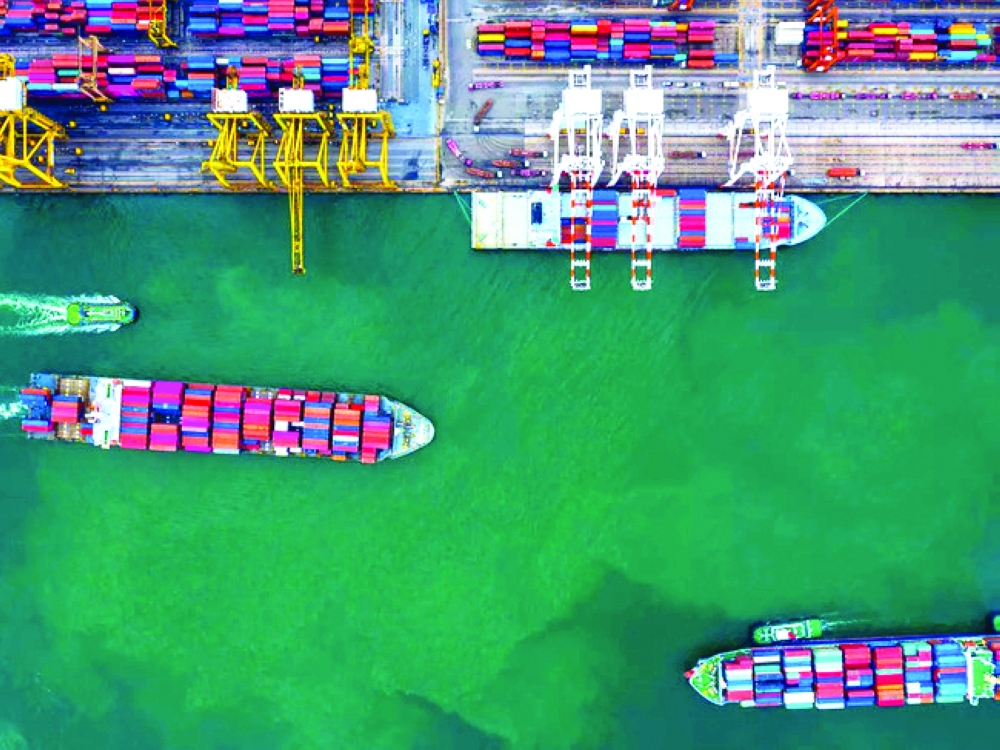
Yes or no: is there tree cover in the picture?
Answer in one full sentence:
No, there is no tree cover in the image.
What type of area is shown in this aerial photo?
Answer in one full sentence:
The area seen from above is a port.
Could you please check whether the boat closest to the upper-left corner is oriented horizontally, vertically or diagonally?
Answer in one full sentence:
In this picture, the boat closest to the upper-left corner lies horizontally.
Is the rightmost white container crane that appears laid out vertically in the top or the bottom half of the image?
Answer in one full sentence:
The top half of the photo is where the rightmost white container crane that appears laid out vertically is.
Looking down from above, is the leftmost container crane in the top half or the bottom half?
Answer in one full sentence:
You can find the leftmost container crane in the top half.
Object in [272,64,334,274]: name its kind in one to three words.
container crane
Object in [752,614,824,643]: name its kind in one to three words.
boat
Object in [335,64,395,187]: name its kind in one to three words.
container crane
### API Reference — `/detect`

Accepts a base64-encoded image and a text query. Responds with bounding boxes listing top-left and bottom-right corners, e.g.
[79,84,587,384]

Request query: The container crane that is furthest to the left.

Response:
[0,64,66,188]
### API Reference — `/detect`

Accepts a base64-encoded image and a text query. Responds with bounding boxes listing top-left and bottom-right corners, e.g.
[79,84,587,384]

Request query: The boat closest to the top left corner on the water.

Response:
[65,301,138,326]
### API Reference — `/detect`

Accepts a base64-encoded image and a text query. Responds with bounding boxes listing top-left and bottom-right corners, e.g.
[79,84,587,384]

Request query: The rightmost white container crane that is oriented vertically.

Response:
[714,56,790,291]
